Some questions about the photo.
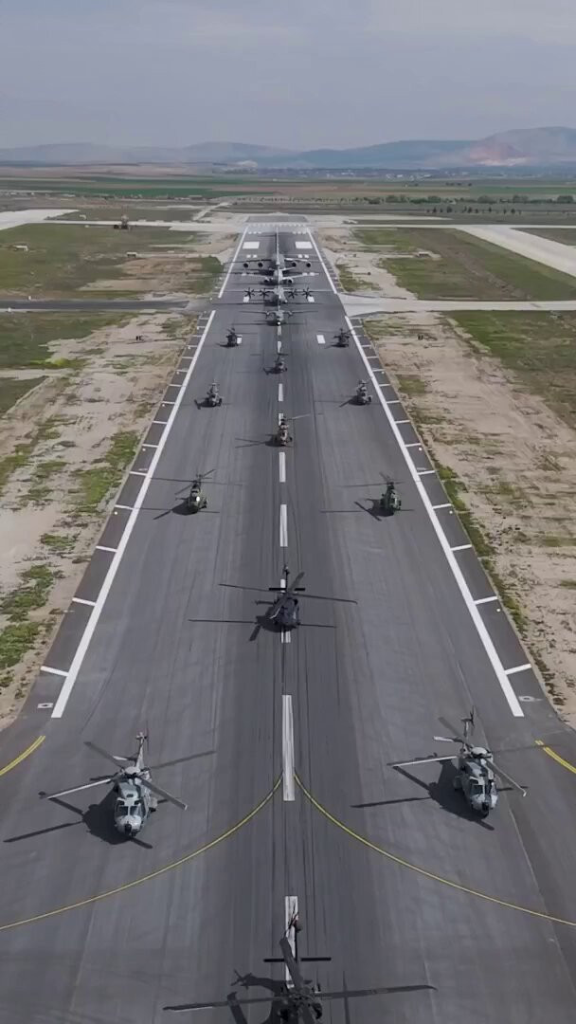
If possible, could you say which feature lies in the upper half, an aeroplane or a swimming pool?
aeroplane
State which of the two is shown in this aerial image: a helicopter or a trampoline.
helicopter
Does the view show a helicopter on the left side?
Yes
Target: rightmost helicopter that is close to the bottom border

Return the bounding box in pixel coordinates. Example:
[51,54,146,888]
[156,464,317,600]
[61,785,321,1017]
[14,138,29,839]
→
[163,895,434,1024]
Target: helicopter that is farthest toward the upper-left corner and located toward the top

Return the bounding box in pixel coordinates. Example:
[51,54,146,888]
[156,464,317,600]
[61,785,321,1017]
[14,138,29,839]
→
[216,321,255,342]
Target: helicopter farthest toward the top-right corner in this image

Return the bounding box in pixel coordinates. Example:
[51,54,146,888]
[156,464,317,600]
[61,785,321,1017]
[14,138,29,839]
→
[318,321,359,342]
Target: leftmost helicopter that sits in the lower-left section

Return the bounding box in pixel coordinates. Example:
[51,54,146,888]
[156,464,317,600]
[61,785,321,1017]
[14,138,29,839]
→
[44,719,214,840]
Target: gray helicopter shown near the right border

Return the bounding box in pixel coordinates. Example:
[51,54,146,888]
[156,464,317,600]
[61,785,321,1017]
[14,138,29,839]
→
[392,702,562,818]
